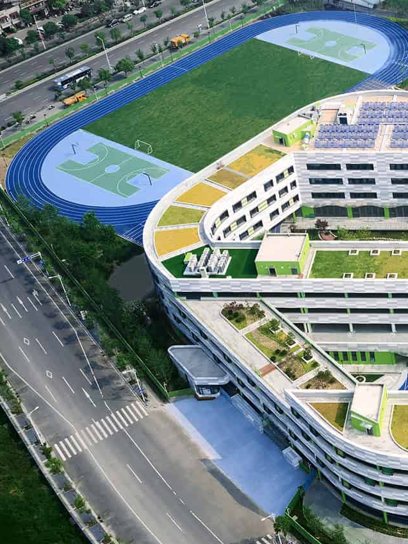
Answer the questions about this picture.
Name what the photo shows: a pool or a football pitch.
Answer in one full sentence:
It is a football pitch that can be seen here.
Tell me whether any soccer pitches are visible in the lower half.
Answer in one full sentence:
No, no soccer pitch is visible in the lower half.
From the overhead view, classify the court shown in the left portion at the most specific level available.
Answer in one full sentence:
Looking closely, the court shown in the left portion is a basketball court.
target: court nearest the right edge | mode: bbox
[284,26,378,63]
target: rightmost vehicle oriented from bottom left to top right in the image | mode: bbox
[170,32,192,47]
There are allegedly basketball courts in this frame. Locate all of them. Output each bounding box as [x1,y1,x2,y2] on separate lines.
[284,26,378,63]
[55,142,170,199]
